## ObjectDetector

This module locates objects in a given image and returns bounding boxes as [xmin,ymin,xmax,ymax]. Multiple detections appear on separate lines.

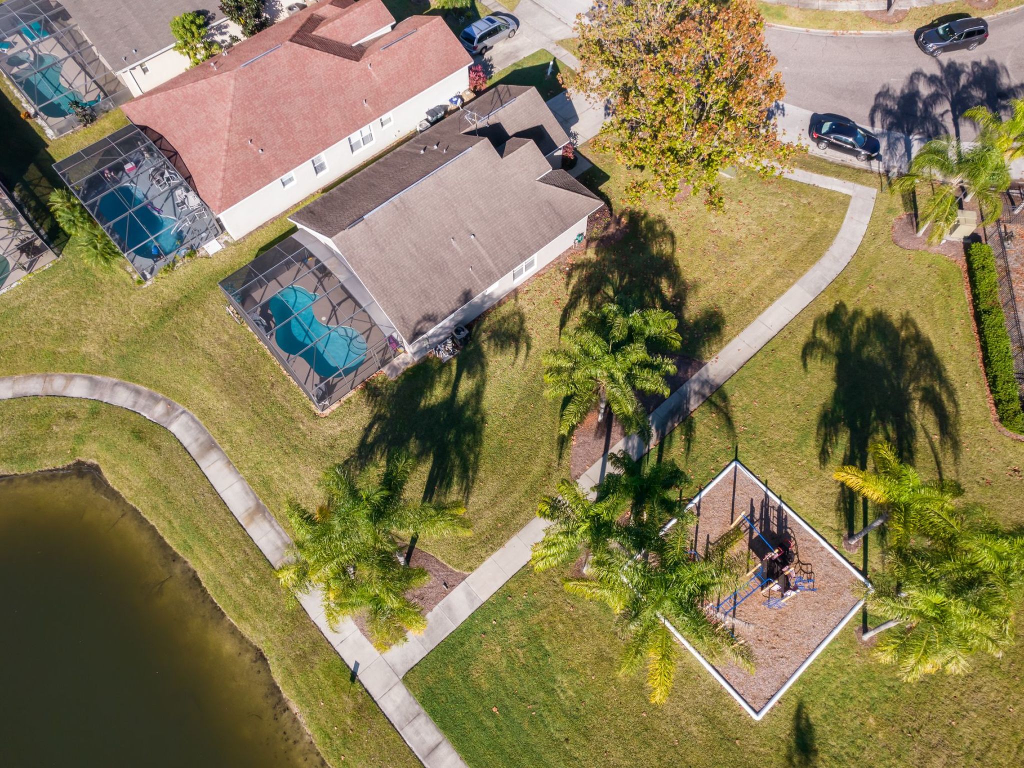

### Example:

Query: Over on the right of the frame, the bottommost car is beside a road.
[811,121,879,162]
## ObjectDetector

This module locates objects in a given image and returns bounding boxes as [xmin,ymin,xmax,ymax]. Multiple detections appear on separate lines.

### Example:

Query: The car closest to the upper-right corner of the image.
[919,18,988,57]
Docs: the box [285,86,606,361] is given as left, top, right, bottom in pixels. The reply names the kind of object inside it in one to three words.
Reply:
house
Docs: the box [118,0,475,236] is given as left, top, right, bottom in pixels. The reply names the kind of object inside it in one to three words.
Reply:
house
